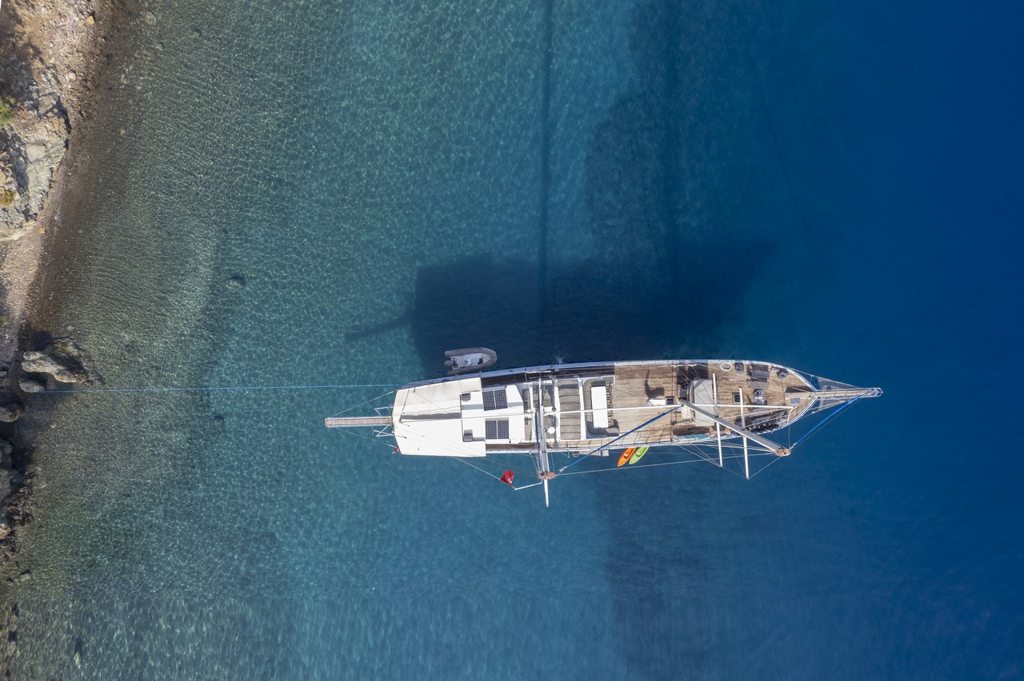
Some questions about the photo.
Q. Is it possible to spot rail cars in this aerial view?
No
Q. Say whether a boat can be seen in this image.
Yes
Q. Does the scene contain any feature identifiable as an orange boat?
Yes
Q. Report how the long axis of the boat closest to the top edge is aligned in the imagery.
from left to right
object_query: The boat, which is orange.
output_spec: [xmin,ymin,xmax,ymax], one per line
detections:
[618,448,636,467]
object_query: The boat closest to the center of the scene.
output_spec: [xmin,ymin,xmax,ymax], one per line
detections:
[444,346,498,375]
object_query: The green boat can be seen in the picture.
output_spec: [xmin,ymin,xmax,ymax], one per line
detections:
[629,447,649,465]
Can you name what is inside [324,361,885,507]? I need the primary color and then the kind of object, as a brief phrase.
white boat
